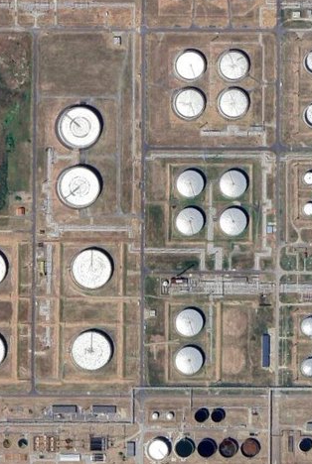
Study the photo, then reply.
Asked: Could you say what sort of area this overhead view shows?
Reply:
industrial area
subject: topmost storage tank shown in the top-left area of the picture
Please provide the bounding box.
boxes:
[56,102,104,151]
